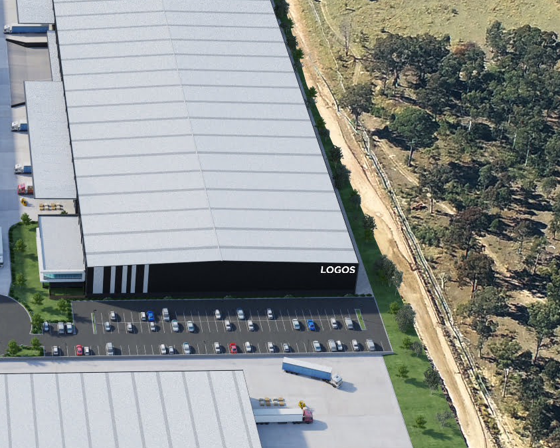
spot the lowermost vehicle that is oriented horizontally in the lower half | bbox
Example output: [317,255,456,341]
[256,408,315,424]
